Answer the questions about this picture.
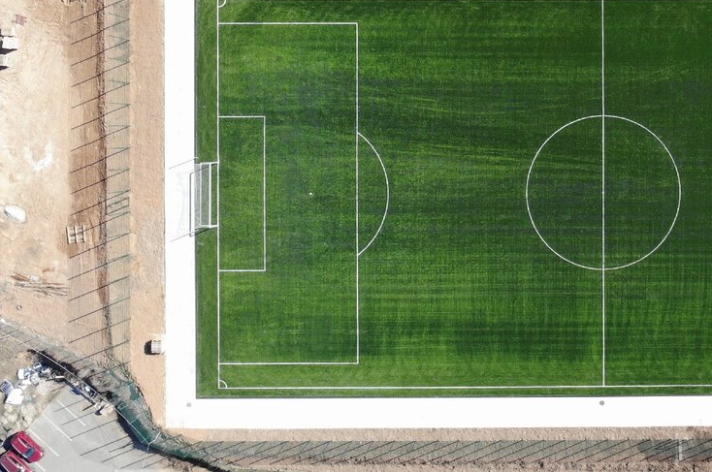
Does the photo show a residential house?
No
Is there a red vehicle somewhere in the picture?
Yes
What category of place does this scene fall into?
sports ground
